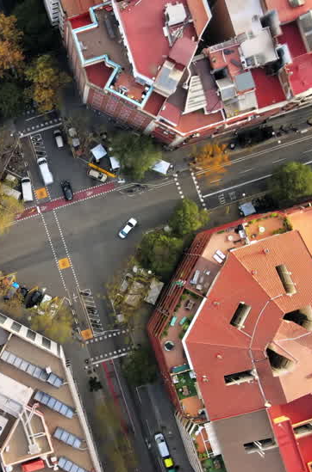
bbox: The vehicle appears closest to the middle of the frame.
[117,217,137,238]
